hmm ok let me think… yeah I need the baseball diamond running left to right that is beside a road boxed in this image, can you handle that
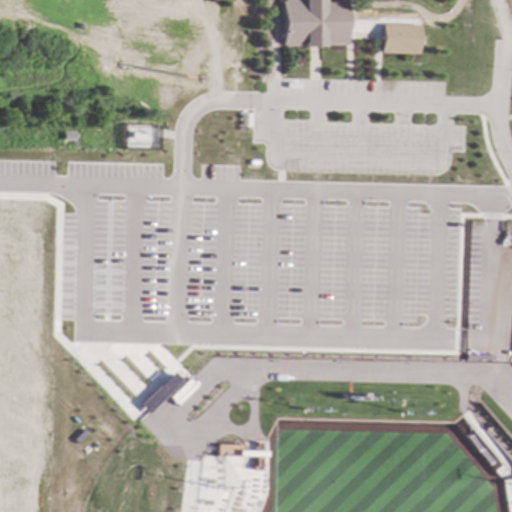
[263,420,500,512]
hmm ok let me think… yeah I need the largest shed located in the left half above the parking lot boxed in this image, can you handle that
[126,124,160,147]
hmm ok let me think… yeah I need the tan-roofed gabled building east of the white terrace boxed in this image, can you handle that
[384,24,425,54]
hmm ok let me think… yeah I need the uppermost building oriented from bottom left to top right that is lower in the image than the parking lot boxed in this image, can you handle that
[144,371,188,412]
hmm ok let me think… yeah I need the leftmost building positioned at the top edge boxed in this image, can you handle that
[284,0,354,48]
